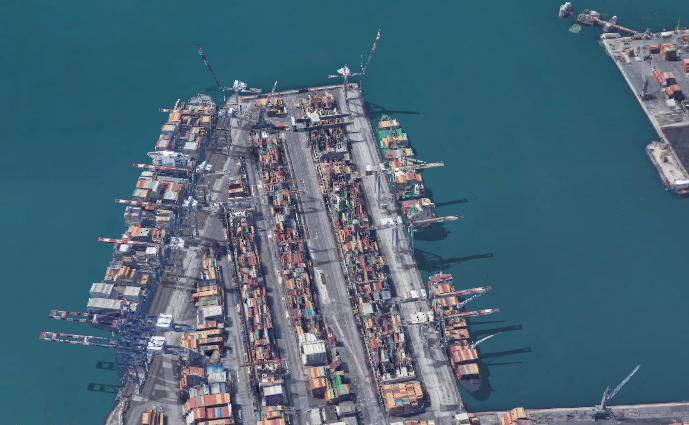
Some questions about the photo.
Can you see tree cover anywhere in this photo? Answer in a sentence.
No, there's no tree cover in this view.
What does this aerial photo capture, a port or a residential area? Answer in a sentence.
This image shows a port.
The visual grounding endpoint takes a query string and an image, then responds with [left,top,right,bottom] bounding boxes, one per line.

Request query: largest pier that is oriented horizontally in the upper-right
[579,15,638,34]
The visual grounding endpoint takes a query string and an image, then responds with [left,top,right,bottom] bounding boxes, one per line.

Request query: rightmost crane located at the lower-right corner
[591,358,643,423]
